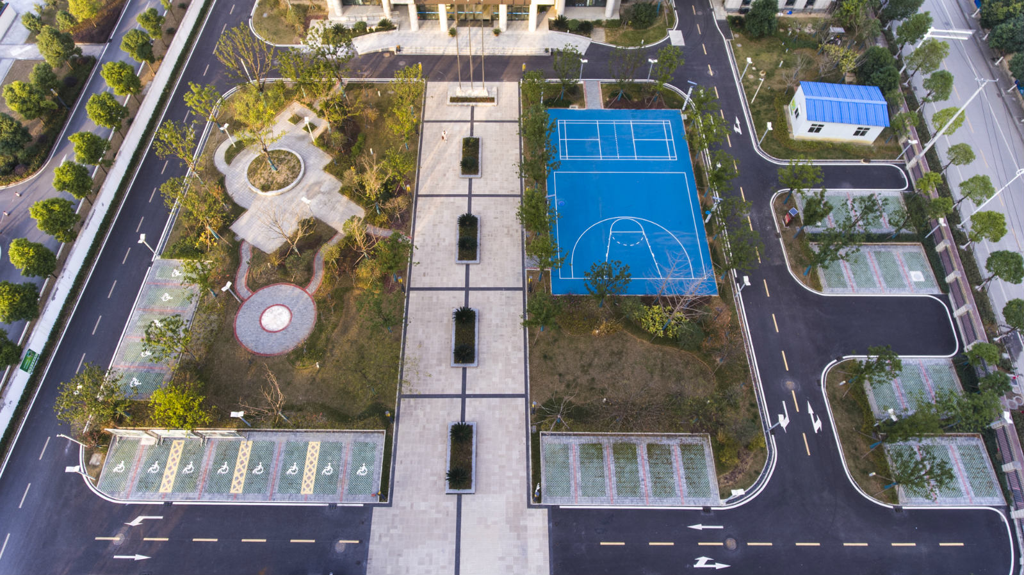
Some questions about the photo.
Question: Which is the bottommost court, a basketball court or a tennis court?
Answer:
basketball court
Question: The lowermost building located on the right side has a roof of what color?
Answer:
blue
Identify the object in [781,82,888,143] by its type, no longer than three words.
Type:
building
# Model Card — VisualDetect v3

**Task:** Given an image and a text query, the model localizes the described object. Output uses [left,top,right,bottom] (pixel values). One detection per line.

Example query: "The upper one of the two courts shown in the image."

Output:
[544,106,694,165]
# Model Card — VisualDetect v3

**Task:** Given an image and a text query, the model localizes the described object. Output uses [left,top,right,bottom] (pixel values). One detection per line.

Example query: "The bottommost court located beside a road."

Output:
[547,162,721,296]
